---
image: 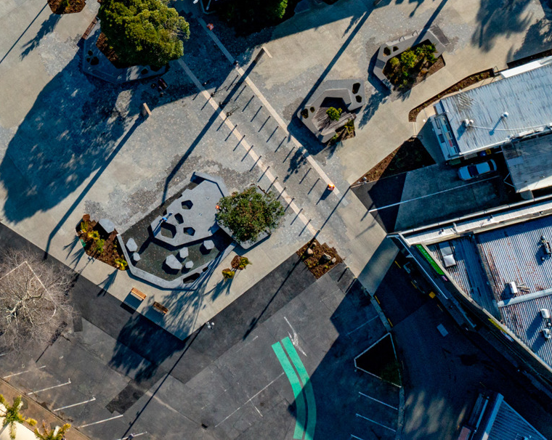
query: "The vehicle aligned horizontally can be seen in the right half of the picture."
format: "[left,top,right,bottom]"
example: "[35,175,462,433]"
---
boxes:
[455,158,500,181]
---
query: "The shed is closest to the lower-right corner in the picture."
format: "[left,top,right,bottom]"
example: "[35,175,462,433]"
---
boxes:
[458,390,552,440]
